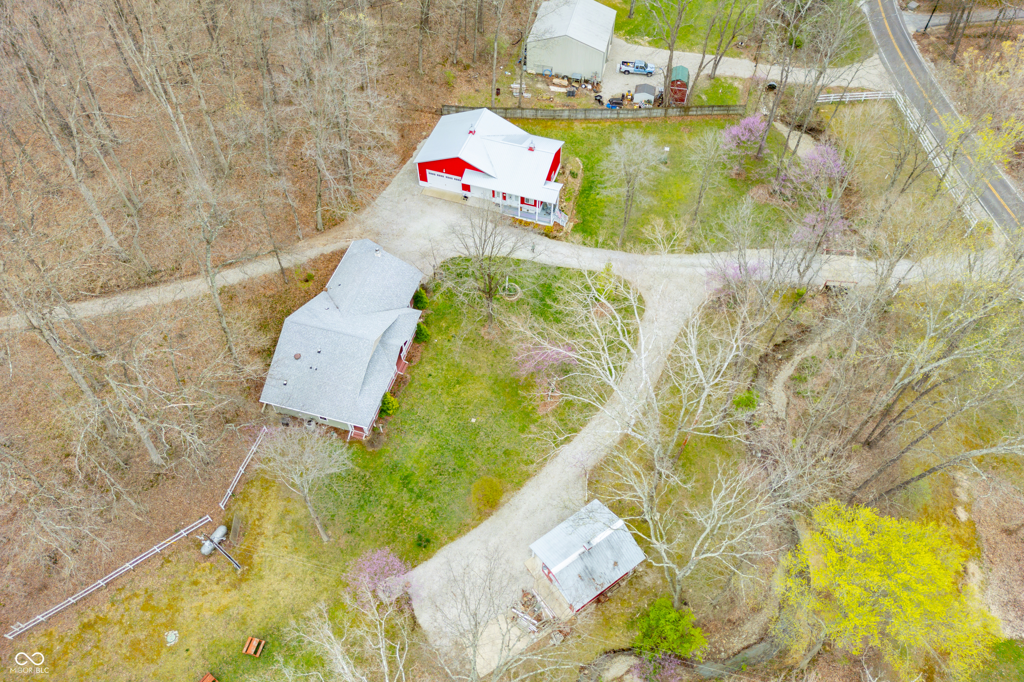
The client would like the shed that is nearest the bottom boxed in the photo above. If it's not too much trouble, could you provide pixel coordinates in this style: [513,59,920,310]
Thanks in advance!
[526,499,647,614]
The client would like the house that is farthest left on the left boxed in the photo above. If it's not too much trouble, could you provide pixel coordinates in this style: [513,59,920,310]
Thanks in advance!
[258,240,424,449]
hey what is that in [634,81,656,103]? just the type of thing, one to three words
shed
